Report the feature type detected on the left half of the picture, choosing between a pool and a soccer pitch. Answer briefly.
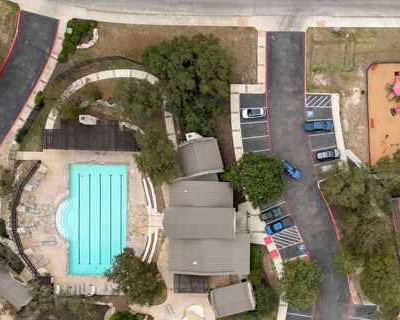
pool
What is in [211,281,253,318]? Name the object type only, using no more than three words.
building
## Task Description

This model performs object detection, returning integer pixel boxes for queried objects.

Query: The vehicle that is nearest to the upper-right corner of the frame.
[304,120,333,132]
